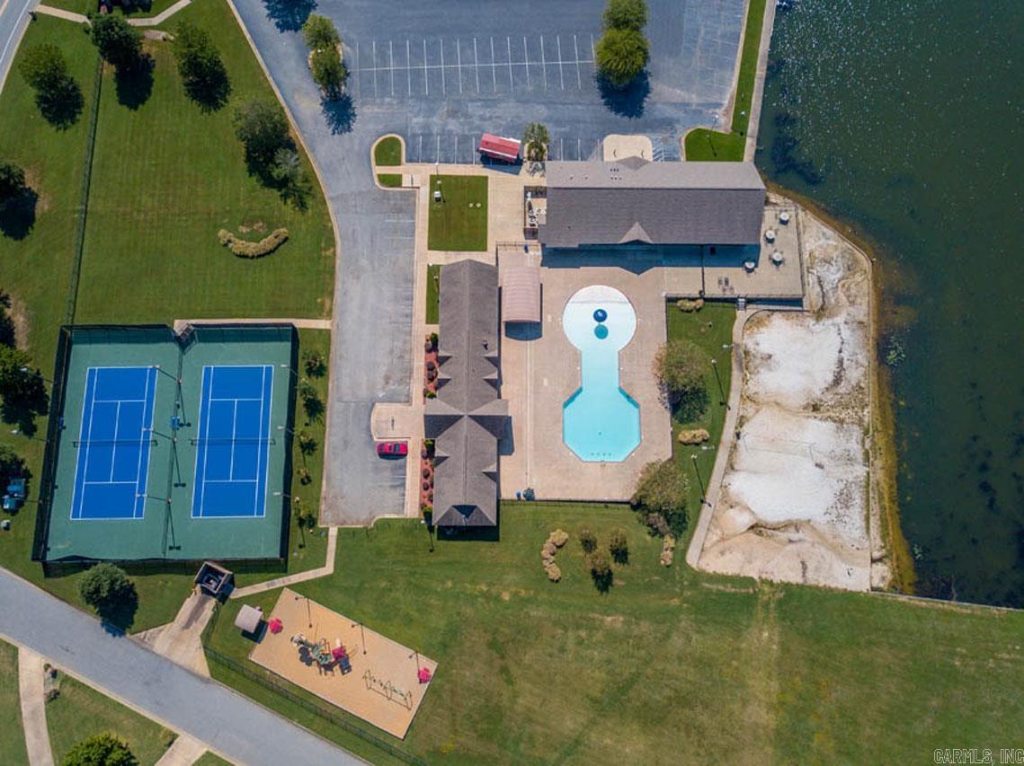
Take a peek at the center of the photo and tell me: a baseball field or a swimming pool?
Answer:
swimming pool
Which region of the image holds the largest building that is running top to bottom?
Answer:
center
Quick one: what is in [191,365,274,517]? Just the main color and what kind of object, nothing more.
blue tennis court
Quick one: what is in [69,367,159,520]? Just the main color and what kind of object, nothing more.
blue tennis court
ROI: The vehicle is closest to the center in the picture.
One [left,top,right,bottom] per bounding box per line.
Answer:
[377,442,408,456]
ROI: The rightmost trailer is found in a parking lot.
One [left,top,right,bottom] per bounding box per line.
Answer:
[476,133,520,161]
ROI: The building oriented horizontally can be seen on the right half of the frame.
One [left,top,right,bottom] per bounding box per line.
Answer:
[538,155,766,249]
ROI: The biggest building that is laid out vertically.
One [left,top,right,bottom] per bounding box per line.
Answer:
[424,259,508,533]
